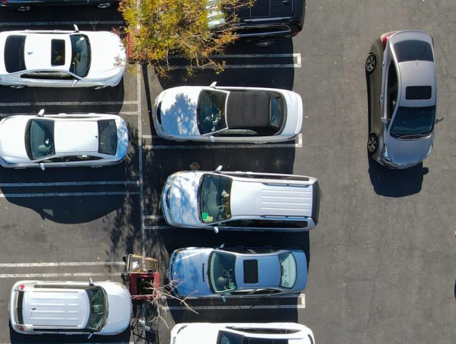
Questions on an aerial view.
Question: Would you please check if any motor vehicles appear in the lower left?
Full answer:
Yes, I can see a motor vehicle in the lower left.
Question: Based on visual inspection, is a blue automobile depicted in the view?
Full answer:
Yes, a blue automobile is visible in the scene.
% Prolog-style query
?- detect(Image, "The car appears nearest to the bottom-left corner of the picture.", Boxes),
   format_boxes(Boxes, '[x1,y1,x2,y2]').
[10,275,130,342]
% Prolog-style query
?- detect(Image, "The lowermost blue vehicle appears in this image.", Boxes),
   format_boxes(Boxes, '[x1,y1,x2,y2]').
[167,241,307,305]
